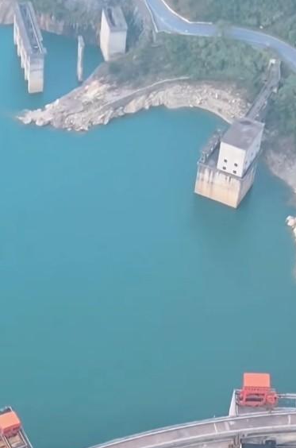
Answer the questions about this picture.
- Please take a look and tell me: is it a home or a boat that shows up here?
home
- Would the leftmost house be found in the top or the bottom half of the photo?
top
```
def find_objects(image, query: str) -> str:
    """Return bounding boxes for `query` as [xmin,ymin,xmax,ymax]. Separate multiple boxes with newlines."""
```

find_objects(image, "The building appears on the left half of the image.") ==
[101,7,127,63]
